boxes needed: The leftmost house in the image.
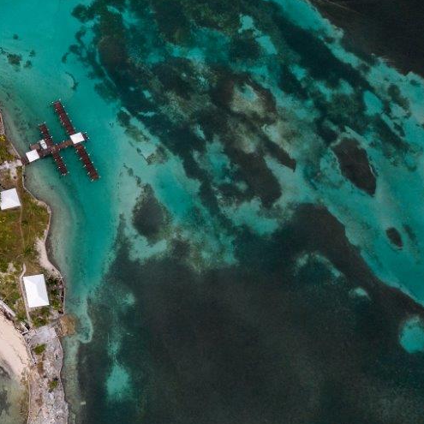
[0,188,20,209]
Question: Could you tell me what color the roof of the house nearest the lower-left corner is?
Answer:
white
